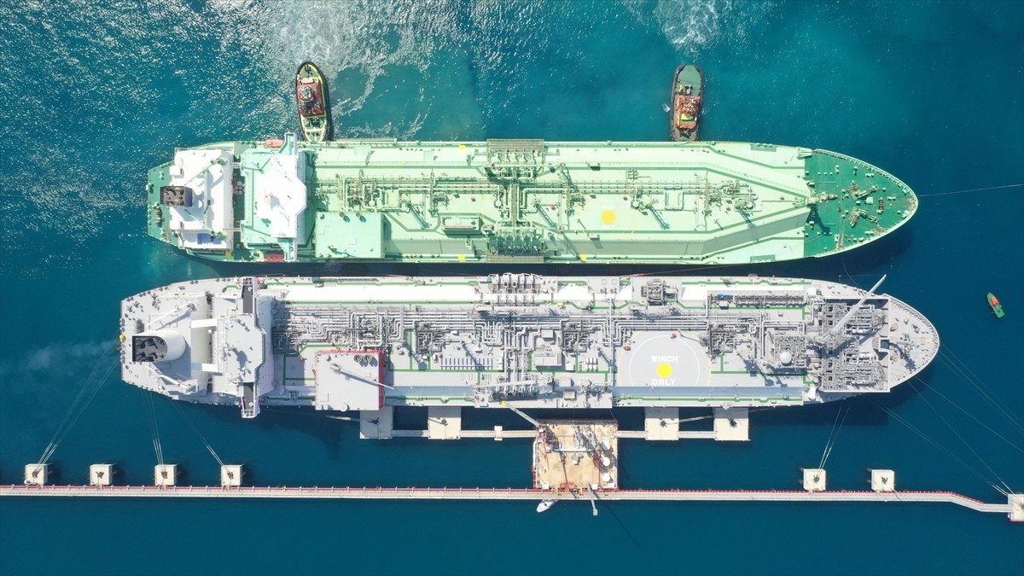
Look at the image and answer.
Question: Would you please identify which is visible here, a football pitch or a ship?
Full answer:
I can see a ship in this picture.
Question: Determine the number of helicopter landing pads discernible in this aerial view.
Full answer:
I count 2 helicopter landing pads.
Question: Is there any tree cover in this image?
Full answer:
No, the picture contains no tree cover.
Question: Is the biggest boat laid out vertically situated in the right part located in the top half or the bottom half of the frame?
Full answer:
The top half of the photo is where the biggest boat laid out vertically situated in the right part is.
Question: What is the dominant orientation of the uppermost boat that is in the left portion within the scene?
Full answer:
The uppermost boat that is in the left portion is laid out vertically.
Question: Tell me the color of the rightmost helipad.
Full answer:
From above, the rightmost helipad appears white.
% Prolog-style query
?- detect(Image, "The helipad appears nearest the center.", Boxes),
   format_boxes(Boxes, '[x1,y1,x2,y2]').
[579,192,637,240]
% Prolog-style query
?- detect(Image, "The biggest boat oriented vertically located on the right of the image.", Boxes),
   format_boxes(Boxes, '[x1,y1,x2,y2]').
[669,64,704,141]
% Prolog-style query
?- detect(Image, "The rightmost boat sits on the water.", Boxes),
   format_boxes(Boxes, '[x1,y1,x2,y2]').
[988,293,1005,318]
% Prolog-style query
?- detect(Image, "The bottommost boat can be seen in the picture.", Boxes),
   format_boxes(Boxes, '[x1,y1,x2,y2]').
[537,500,558,512]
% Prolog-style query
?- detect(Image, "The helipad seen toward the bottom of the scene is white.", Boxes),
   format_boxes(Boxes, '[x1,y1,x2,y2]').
[619,330,710,386]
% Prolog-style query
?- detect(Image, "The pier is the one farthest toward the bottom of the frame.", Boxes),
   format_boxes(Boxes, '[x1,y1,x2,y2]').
[0,482,1007,513]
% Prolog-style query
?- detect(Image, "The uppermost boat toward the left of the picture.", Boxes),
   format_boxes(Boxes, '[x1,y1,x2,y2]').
[296,62,332,140]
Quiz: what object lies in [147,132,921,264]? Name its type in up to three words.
ship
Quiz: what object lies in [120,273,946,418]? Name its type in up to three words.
ship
